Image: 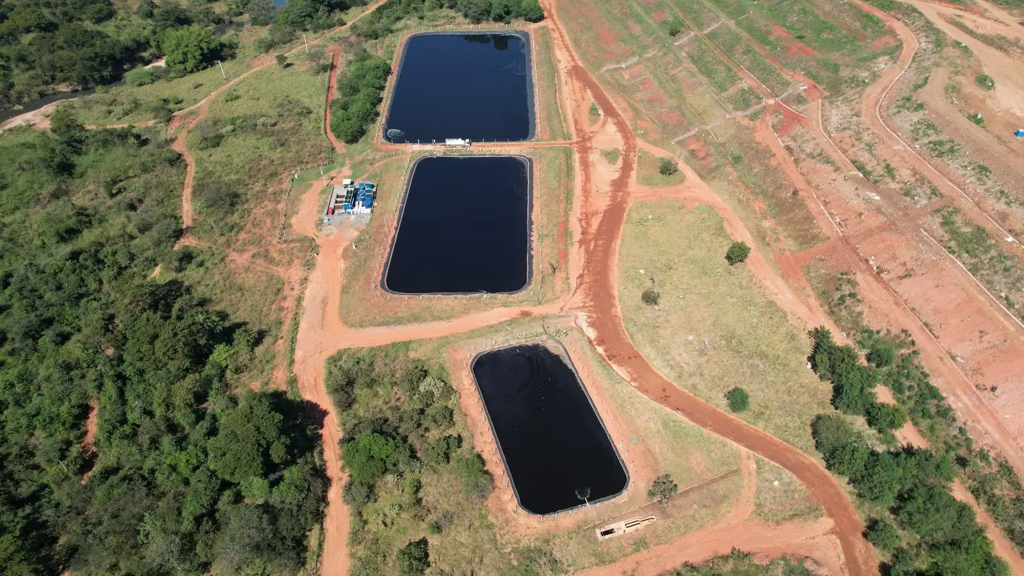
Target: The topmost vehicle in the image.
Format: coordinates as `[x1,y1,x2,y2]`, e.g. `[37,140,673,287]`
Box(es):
[445,135,472,147]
